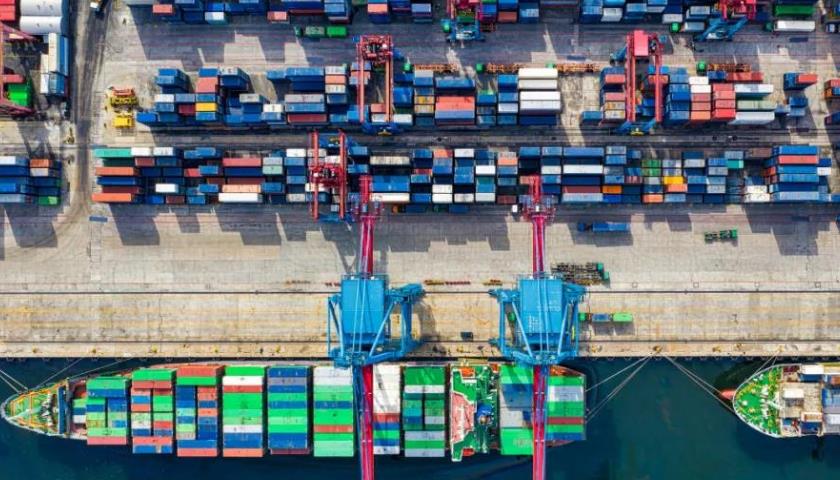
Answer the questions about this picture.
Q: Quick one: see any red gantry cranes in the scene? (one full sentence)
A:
Yes, I can see a red gantry crane in this picture.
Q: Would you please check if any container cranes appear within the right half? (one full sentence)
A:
Yes, you'll find a container crane within the right half.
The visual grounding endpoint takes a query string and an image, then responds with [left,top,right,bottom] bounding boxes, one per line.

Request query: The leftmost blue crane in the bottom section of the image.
[327,176,427,480]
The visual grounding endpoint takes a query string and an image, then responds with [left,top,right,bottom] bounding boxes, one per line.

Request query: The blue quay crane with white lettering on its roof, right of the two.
[484,176,587,480]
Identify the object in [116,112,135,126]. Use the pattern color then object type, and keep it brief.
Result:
yellow vehicle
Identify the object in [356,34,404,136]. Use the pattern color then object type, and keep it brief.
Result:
red container crane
